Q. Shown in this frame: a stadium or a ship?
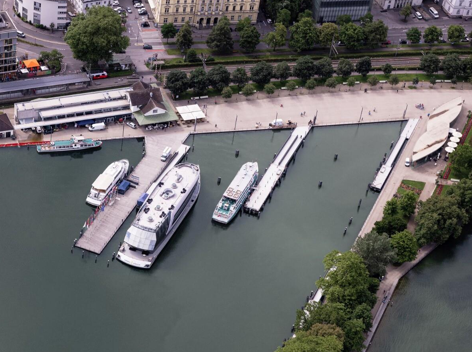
ship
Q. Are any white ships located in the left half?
Yes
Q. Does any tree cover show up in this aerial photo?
Yes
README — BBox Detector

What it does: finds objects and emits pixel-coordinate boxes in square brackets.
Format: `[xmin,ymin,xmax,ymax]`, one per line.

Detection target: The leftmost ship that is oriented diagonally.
[87,157,127,207]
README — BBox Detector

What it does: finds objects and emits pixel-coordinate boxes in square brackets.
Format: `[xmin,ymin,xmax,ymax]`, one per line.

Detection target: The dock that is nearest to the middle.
[245,127,312,211]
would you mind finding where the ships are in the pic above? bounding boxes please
[36,135,102,153]
[87,157,127,207]
[214,161,257,224]
[117,160,199,268]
